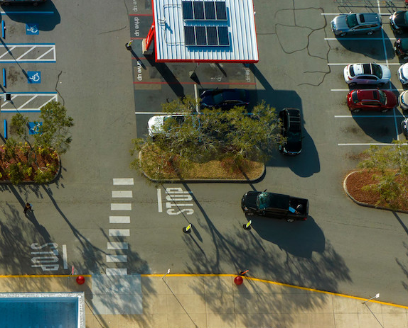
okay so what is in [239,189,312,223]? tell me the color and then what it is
black truck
